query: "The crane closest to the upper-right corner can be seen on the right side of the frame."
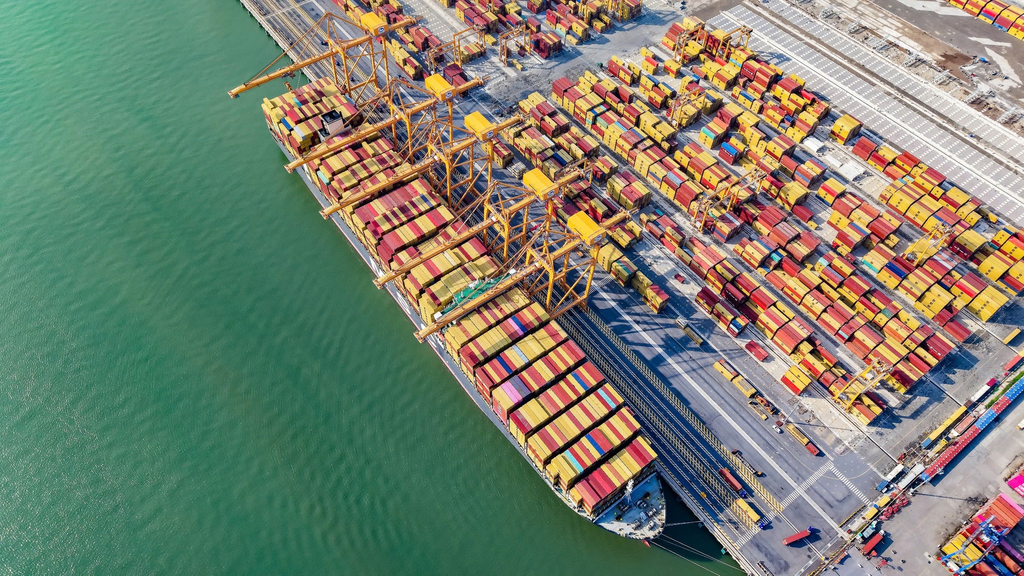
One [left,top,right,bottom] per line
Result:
[900,213,959,262]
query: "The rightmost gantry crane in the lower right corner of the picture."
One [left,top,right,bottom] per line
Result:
[935,511,1013,576]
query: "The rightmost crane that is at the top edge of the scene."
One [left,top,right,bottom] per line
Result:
[715,17,756,61]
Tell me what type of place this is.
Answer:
port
